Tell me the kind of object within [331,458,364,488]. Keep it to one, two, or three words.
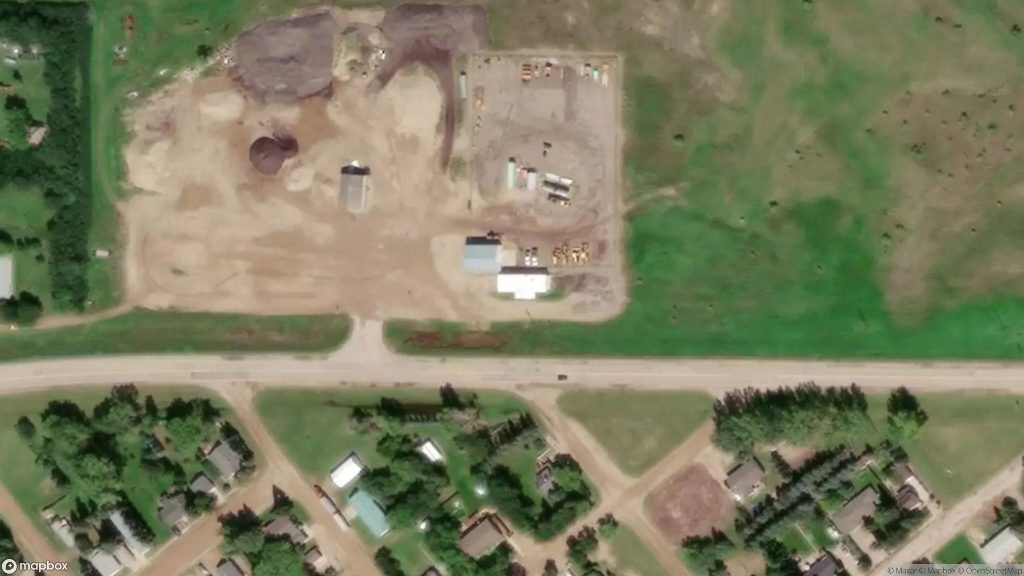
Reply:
shed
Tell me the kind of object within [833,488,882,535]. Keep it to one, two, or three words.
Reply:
house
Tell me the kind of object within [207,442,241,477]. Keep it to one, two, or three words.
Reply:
house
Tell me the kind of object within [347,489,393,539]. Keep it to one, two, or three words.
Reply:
shed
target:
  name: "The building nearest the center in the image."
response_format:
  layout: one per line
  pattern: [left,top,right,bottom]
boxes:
[497,274,550,298]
